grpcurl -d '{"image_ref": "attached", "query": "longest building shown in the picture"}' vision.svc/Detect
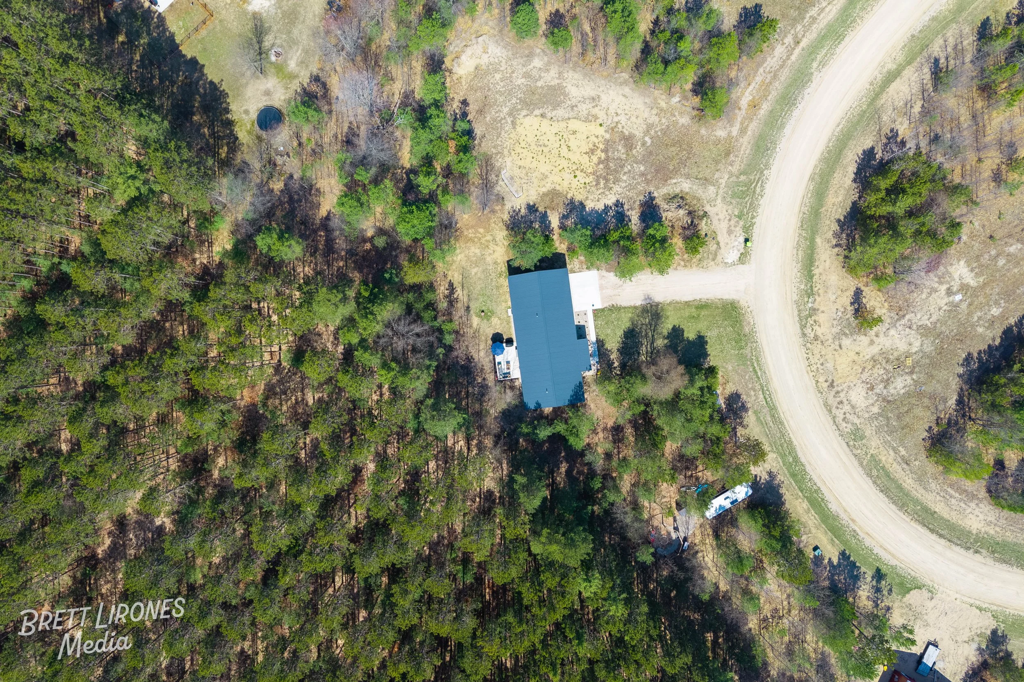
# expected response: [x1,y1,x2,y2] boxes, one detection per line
[508,268,592,409]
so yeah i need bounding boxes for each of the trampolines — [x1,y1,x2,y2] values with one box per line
[256,105,283,132]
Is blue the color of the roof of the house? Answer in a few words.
Yes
